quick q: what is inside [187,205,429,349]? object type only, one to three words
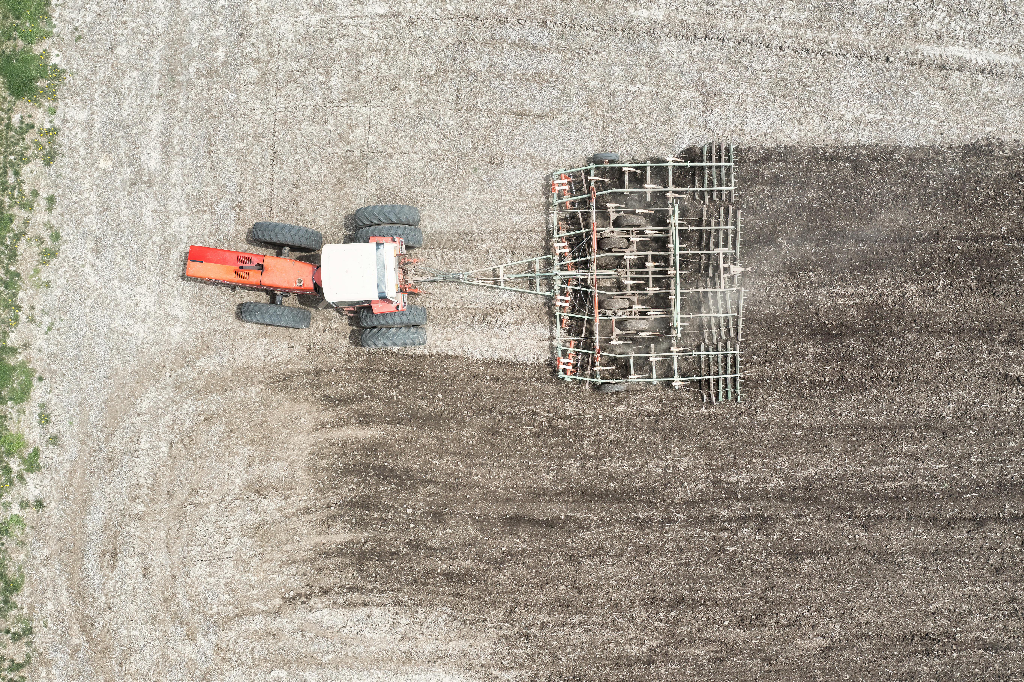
work vehicle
